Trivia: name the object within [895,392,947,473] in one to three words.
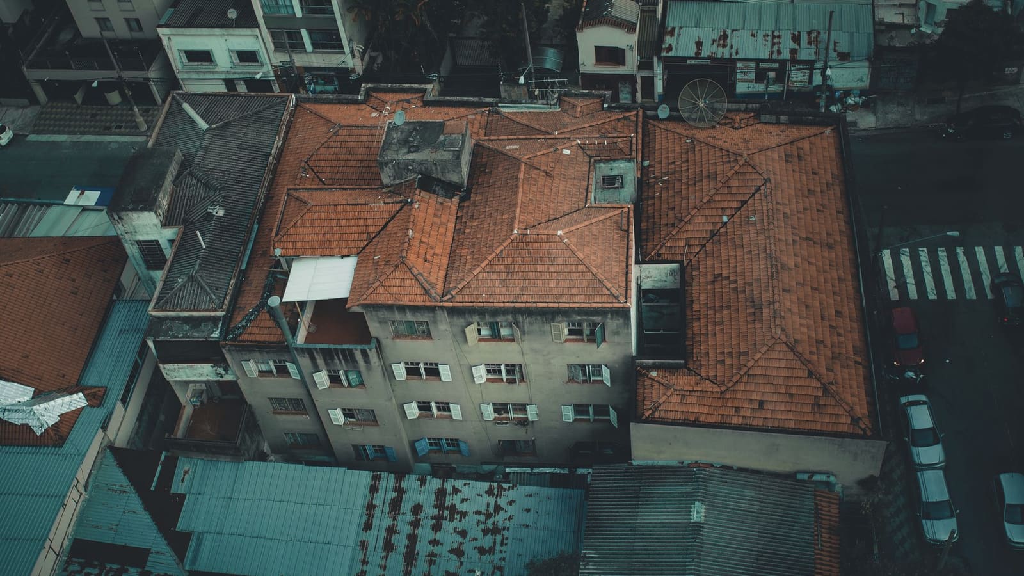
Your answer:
car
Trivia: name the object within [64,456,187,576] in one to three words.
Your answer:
shed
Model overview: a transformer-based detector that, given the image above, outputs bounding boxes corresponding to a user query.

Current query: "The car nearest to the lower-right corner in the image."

[991,472,1024,553]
